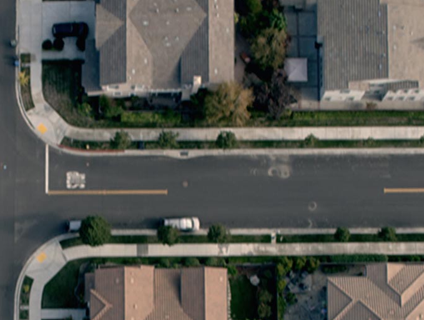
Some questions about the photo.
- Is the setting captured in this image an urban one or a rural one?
urban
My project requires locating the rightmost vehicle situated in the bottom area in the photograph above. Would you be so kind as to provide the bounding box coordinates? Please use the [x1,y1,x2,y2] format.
[160,216,200,232]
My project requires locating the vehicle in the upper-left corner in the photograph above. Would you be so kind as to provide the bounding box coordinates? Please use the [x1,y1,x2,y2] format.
[53,19,87,36]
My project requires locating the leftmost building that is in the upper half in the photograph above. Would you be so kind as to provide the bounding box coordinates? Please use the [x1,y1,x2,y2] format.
[83,0,237,98]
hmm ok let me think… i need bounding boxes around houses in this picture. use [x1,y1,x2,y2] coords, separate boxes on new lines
[84,266,228,320]
[316,0,424,101]
[323,263,424,320]
[83,0,237,98]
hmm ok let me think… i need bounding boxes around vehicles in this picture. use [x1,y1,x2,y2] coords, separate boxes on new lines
[63,218,87,233]
[53,19,87,36]
[160,216,200,232]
